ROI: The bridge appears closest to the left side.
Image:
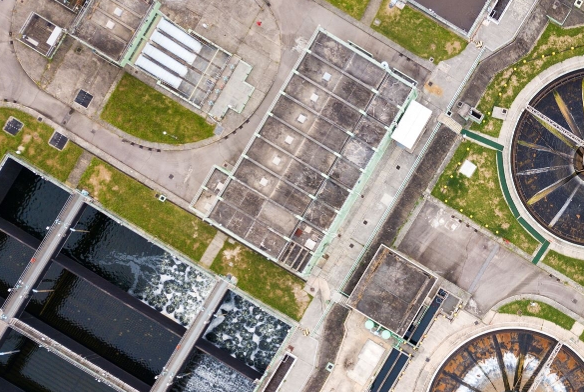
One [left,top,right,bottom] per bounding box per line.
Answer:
[0,191,77,324]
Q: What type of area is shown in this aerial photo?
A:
industrial area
